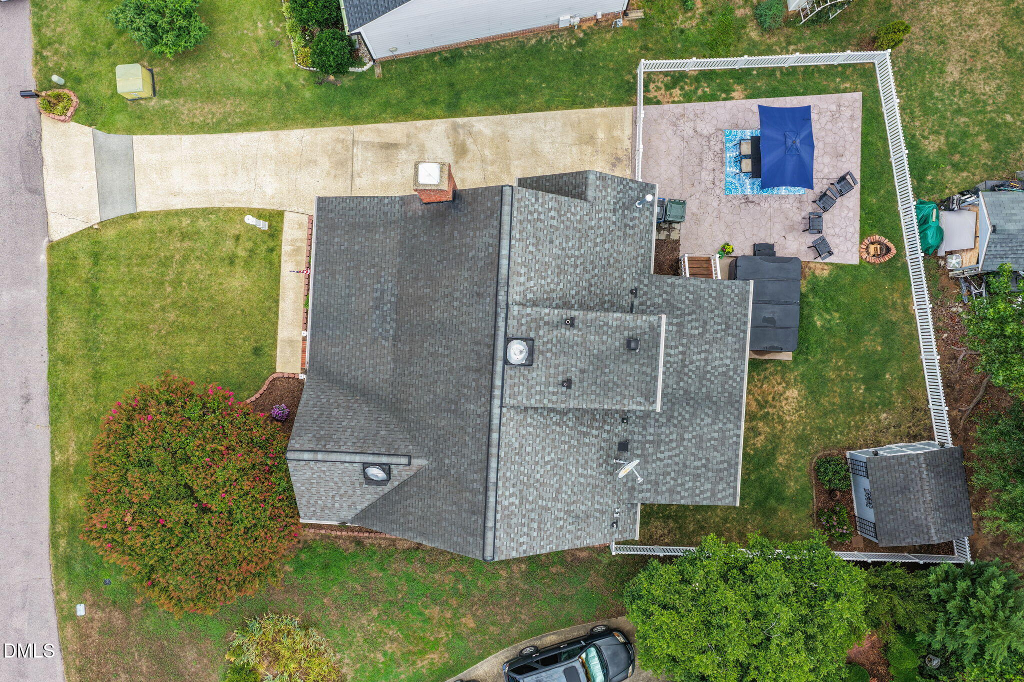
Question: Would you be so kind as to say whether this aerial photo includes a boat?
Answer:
No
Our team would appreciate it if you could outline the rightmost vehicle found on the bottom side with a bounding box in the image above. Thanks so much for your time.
[505,625,639,682]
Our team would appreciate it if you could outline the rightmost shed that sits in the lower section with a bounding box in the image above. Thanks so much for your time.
[846,440,974,547]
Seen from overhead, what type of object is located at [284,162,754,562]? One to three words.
house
